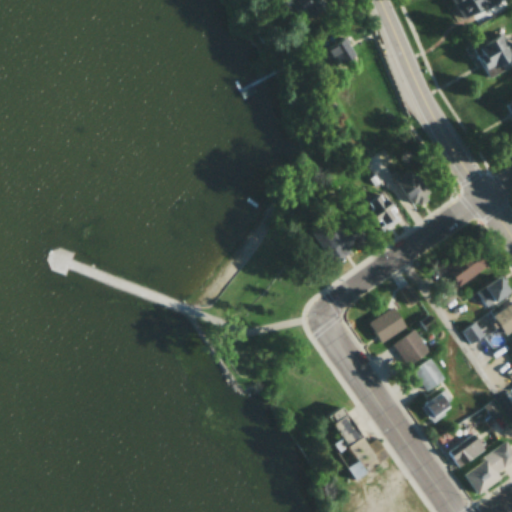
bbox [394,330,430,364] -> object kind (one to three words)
house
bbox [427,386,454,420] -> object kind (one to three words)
house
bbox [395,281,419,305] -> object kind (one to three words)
building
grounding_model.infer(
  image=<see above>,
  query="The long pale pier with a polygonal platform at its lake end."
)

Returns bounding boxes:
[48,248,203,319]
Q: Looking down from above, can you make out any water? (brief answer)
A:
Yes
